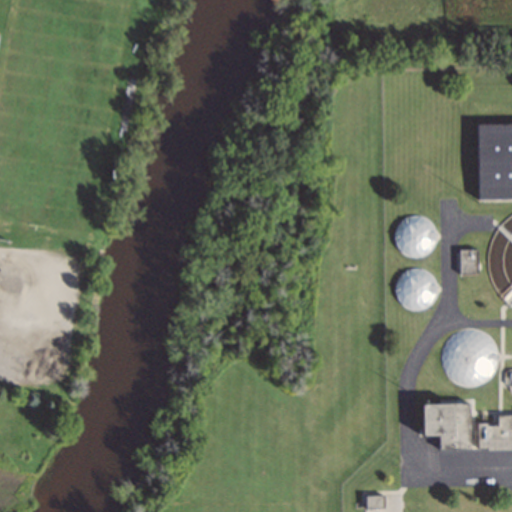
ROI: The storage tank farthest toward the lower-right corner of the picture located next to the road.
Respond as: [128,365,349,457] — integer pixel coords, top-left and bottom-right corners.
[440,328,500,388]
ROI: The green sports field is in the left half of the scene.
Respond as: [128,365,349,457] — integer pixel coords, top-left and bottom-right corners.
[0,0,129,232]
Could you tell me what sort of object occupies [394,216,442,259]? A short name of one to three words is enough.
storage tank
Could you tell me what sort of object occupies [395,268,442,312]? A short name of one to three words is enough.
storage tank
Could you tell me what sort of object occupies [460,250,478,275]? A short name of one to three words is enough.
building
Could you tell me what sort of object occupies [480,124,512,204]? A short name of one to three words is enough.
building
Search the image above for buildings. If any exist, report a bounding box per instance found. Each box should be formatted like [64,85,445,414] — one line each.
[460,250,478,275]
[479,416,512,450]
[424,404,476,451]
[367,496,385,508]
[472,421,478,447]
[480,124,512,204]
